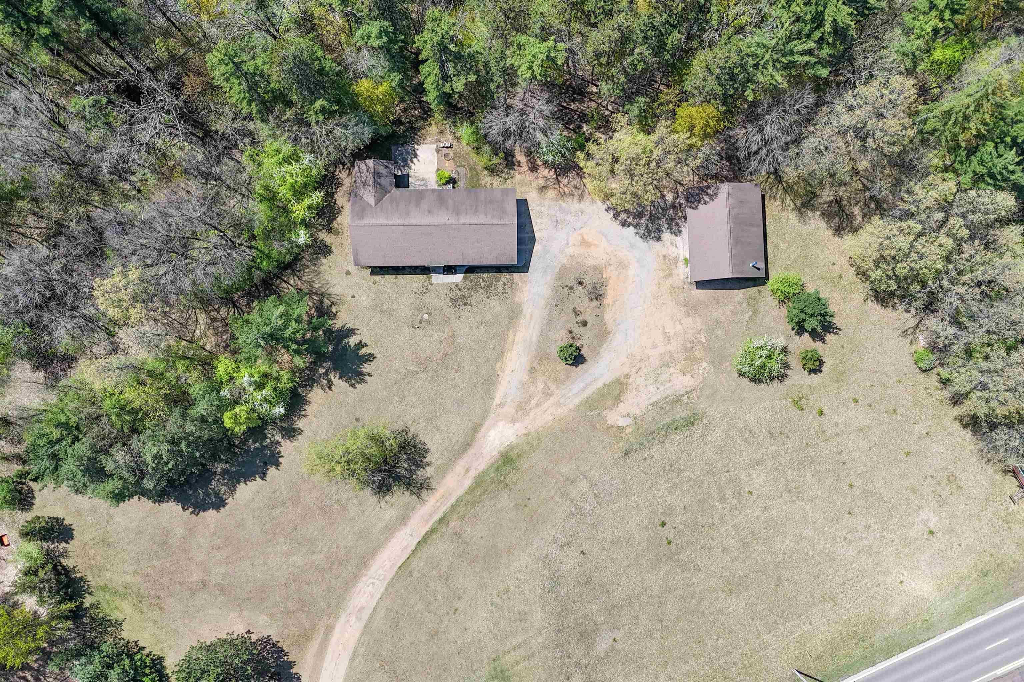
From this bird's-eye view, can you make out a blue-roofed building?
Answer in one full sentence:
No, the picture doesn't show any blue-roofed building.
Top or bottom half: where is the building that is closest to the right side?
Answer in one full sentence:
You can find the building that is closest to the right side in the top half.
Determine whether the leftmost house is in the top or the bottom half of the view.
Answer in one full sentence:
The leftmost house sits in the top half of the picture.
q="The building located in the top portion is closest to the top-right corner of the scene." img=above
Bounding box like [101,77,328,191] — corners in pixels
[681,182,766,284]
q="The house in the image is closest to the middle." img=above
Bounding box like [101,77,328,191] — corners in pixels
[349,159,517,267]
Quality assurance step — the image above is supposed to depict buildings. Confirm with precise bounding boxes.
[681,182,766,284]
[349,159,517,267]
